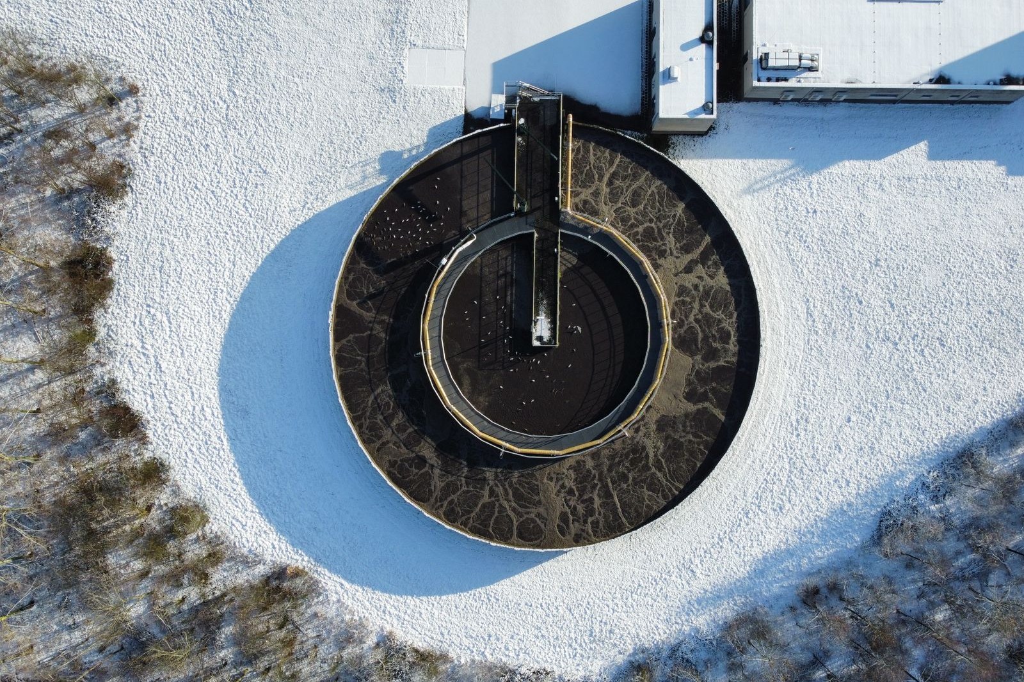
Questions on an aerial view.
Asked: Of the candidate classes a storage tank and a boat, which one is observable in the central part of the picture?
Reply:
storage tank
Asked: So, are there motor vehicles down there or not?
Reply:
No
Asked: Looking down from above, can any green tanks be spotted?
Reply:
No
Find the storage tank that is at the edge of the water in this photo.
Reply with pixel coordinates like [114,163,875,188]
[330,121,761,551]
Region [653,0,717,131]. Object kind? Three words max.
building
